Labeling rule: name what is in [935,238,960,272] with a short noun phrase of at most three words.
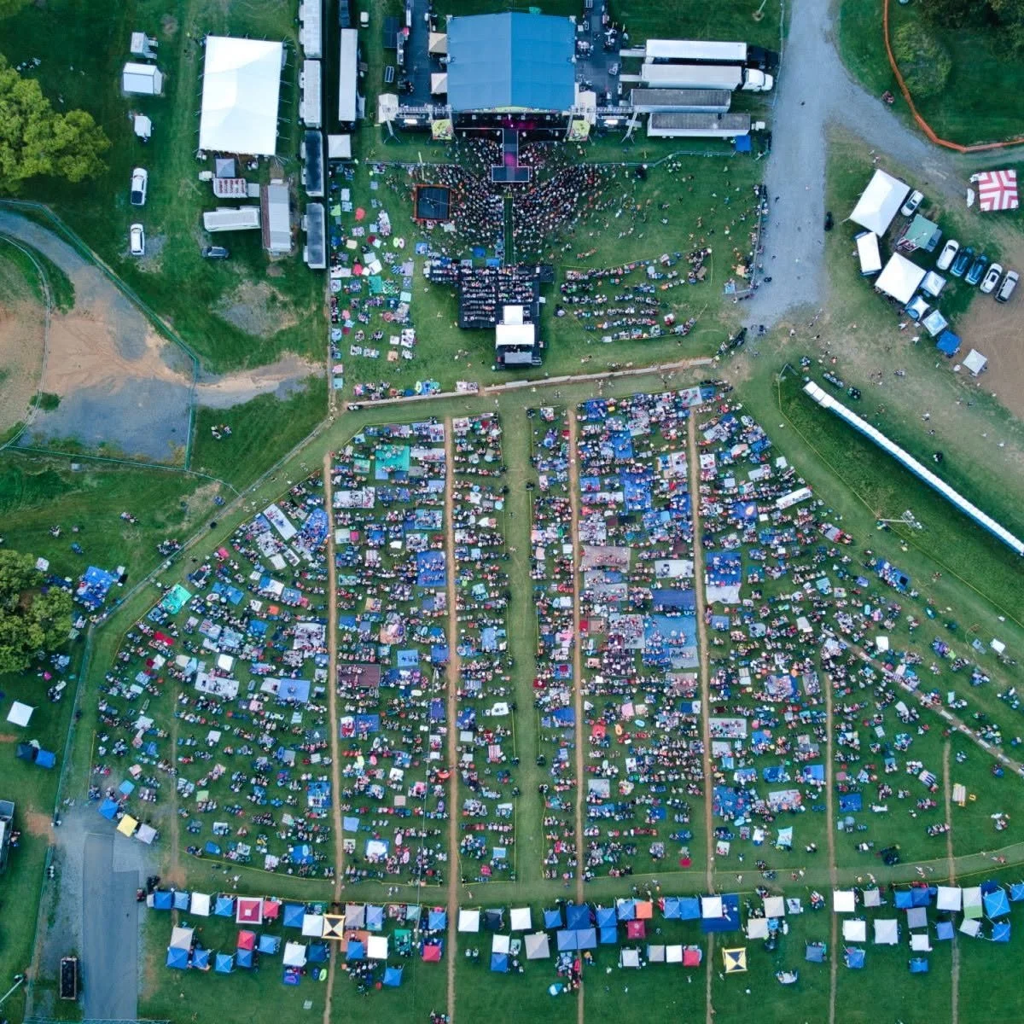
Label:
car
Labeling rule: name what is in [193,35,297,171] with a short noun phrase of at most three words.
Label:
tent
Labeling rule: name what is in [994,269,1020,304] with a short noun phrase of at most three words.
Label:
vehicle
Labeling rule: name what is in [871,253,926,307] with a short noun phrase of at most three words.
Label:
tent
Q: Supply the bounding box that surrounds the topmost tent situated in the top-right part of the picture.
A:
[845,169,910,240]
